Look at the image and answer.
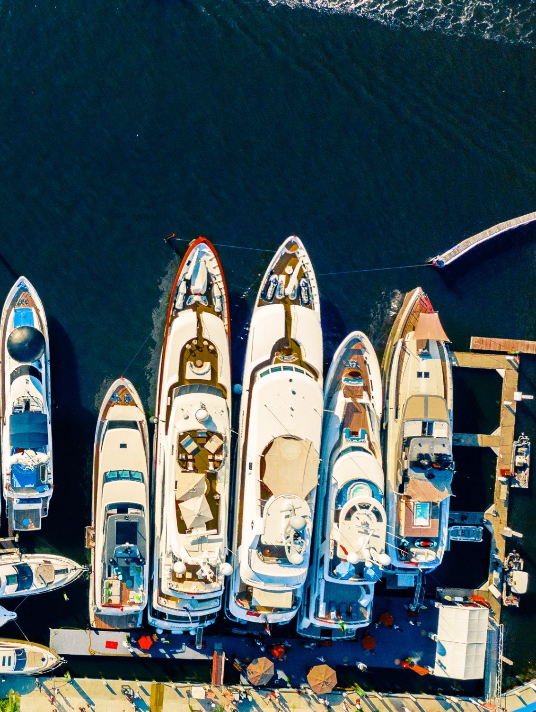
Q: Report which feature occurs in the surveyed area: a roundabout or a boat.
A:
boat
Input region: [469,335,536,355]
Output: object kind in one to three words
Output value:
pier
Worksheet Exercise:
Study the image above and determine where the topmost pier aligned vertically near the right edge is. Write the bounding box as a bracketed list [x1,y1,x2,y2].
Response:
[447,352,519,624]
